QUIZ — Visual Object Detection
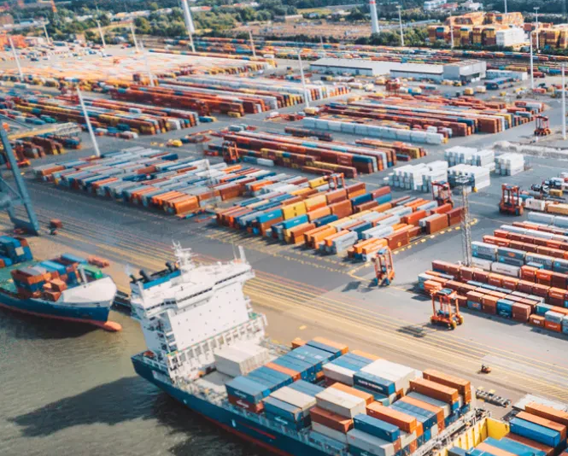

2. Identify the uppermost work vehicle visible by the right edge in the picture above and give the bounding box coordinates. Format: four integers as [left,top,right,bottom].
[532,115,551,136]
